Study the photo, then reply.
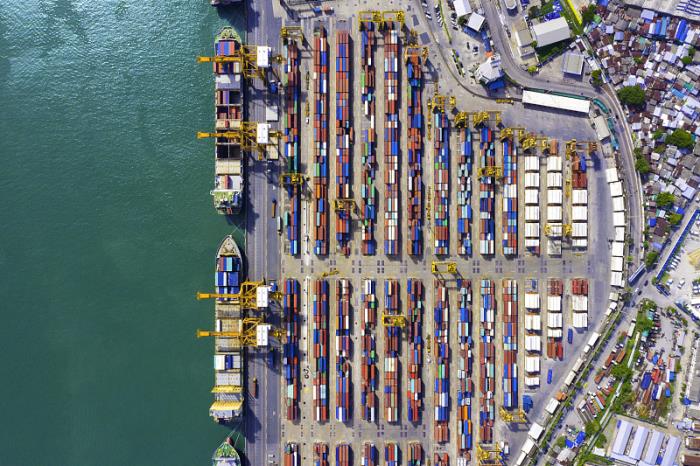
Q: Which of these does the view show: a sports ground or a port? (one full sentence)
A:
This image shows a port.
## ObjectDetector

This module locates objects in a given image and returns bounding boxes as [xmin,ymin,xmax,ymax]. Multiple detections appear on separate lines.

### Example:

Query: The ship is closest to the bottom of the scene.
[214,436,242,466]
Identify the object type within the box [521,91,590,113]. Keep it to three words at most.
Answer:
building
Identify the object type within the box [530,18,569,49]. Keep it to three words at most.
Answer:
building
